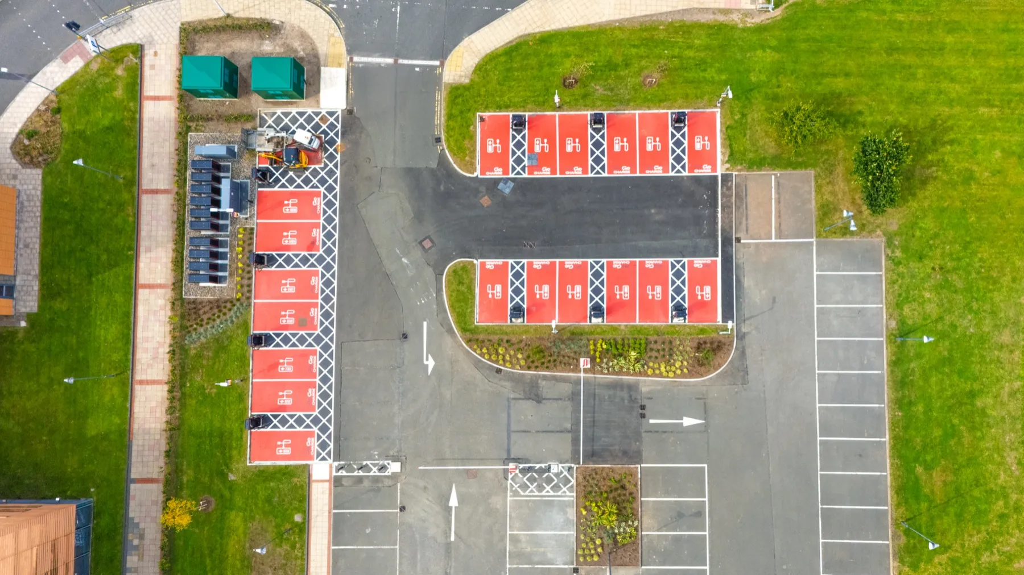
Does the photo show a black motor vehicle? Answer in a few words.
No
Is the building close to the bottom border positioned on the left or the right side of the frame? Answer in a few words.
left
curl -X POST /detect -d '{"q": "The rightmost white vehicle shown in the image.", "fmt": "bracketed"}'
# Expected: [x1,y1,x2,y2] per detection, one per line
[295,129,324,154]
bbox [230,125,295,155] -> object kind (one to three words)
trailer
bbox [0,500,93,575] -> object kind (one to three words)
building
